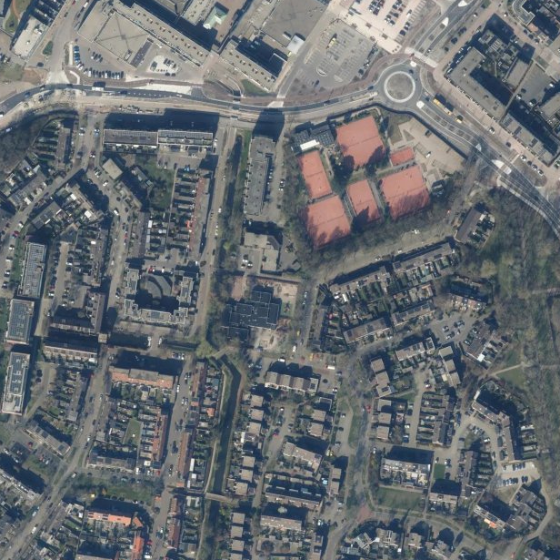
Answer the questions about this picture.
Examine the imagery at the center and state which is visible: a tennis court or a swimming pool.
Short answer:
tennis court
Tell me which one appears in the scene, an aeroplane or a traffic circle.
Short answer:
traffic circle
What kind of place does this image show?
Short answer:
residential area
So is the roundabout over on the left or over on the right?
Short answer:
right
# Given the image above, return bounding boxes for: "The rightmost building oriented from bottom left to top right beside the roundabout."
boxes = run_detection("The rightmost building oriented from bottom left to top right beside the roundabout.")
[443,48,486,76]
